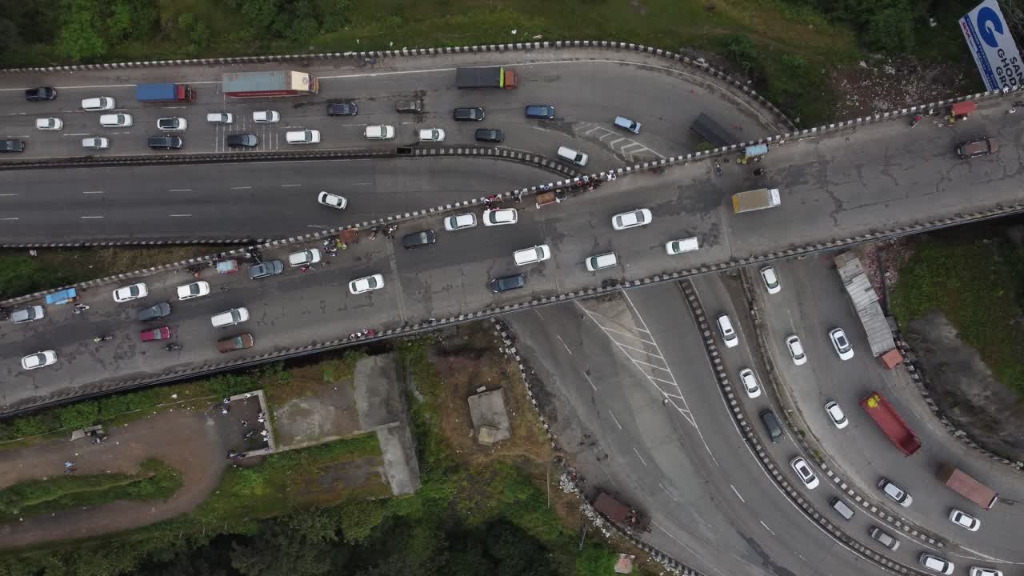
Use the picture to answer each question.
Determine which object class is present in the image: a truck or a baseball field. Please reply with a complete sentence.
The one in the frame is a truck.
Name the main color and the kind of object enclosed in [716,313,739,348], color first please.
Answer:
white car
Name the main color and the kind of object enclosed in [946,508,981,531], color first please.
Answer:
white car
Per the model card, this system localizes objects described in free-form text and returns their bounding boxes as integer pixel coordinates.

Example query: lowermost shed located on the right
[613,551,634,573]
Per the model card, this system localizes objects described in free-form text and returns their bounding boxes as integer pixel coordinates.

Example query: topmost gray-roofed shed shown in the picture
[469,388,511,442]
